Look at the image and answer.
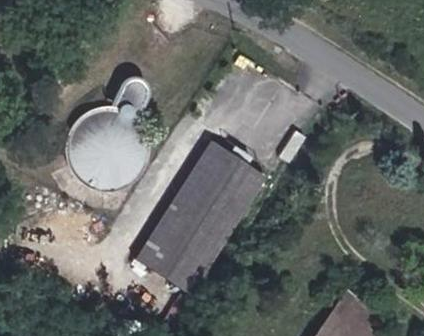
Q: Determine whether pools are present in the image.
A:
No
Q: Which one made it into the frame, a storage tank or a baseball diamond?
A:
storage tank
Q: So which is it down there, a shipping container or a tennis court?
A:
shipping container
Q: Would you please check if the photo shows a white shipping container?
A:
Yes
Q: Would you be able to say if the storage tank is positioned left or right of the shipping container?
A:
on its left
